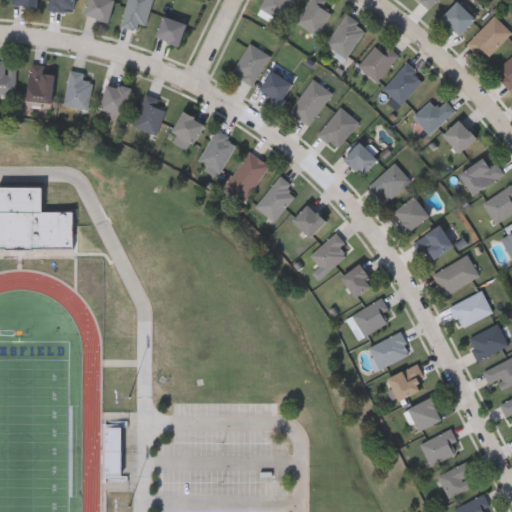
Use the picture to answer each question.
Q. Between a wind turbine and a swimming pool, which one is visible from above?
swimming pool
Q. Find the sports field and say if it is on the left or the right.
left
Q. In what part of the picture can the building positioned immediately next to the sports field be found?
left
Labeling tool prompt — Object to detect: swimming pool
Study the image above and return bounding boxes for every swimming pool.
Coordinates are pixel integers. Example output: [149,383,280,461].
[426,190,446,217]
[490,240,510,268]
[378,93,388,103]
[448,176,459,186]
[376,129,396,149]
[358,350,374,375]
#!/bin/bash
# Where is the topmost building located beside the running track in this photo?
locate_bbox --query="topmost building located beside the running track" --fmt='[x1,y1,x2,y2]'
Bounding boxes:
[0,187,75,250]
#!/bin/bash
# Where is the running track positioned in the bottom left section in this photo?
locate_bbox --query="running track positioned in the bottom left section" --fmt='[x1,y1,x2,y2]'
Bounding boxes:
[0,270,102,512]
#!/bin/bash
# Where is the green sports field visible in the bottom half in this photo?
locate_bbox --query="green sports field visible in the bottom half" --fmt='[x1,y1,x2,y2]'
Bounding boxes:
[0,290,82,512]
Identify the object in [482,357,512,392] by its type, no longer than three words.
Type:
house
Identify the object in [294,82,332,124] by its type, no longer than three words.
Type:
house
